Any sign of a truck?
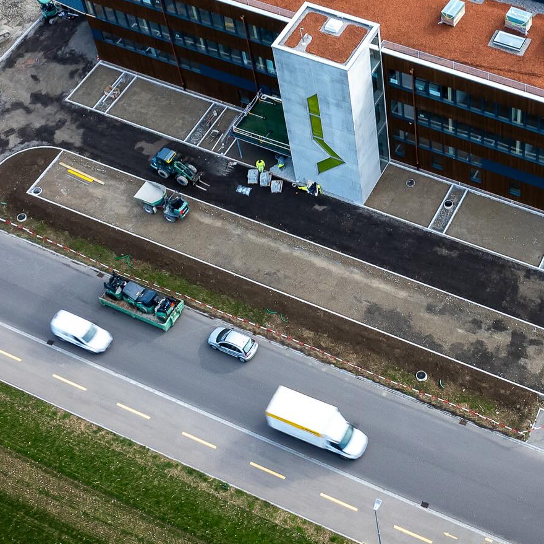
Yes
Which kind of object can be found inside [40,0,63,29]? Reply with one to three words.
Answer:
work vehicle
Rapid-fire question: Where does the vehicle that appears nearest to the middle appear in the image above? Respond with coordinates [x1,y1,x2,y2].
[207,320,262,359]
